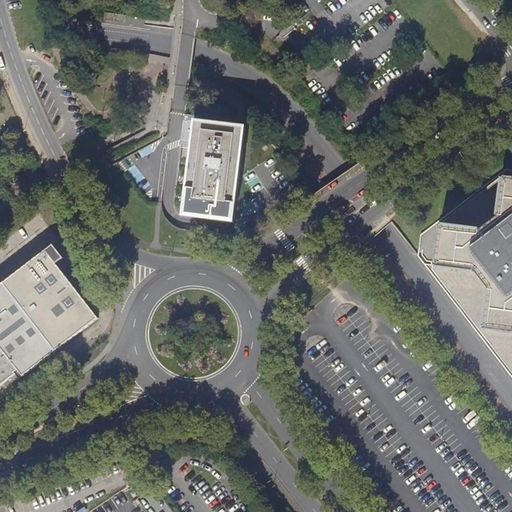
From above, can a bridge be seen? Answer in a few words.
Yes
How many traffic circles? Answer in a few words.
one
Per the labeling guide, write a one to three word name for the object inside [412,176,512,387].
building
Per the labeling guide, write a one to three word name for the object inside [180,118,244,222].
building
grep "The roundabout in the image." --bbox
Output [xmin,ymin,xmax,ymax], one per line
[120,260,265,405]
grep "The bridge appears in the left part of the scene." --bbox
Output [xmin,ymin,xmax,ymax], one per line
[166,0,199,113]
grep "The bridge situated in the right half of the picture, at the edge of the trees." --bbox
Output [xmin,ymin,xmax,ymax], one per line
[307,161,404,248]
